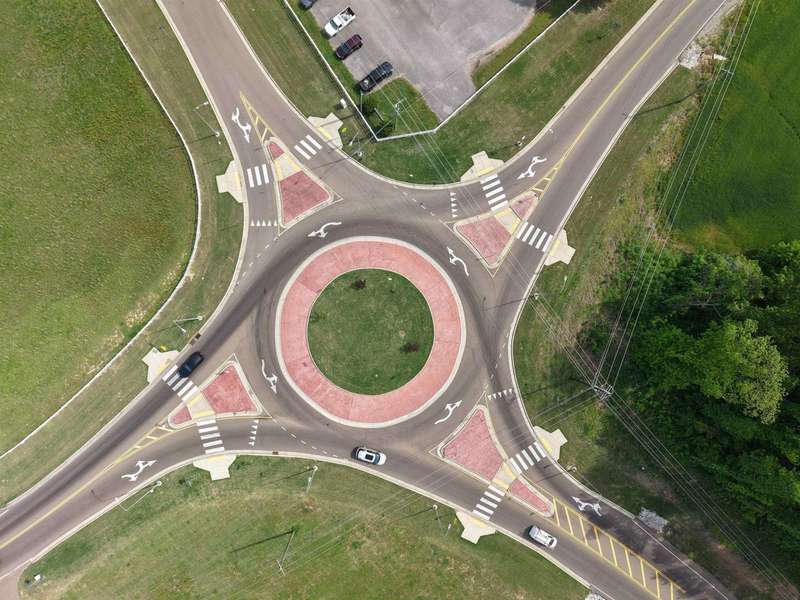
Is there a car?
Yes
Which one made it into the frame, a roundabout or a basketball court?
roundabout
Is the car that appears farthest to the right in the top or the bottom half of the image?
bottom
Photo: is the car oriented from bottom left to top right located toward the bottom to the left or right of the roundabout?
left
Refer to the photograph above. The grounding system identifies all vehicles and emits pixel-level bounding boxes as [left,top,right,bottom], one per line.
[297,0,323,13]
[525,523,558,549]
[351,446,388,466]
[173,349,205,378]
[324,5,358,39]
[357,62,395,94]
[334,34,364,62]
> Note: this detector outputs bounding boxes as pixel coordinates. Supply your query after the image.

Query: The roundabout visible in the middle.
[238,201,500,462]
